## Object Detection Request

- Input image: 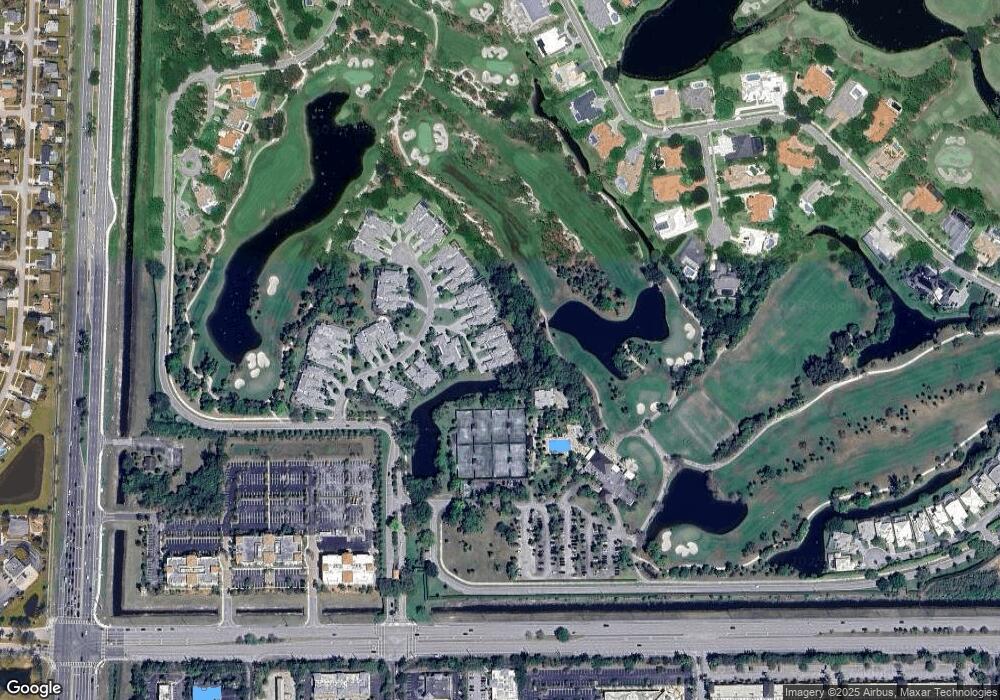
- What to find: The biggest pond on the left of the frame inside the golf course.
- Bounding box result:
[206,93,376,361]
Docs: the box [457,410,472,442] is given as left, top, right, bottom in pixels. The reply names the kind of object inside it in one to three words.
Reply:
tennis court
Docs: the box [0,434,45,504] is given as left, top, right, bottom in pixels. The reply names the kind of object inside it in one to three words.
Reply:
pond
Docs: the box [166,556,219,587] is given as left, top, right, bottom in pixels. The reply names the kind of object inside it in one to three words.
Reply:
building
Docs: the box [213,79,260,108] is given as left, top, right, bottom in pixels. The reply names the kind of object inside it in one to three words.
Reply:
house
